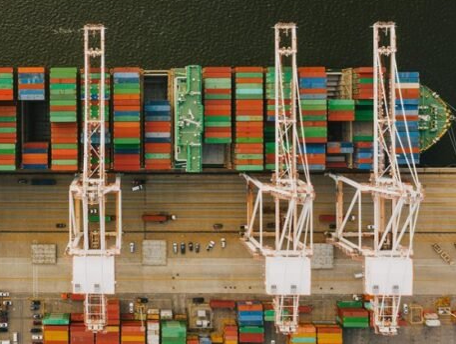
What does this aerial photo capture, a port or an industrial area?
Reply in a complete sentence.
This looks like a port.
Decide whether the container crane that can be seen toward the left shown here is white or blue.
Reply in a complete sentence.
The container crane that can be seen toward the left looks white in the image.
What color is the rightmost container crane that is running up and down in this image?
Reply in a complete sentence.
The rightmost container crane that is running up and down is white.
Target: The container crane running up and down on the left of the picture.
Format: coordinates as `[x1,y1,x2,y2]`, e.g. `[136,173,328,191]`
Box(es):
[63,23,129,331]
